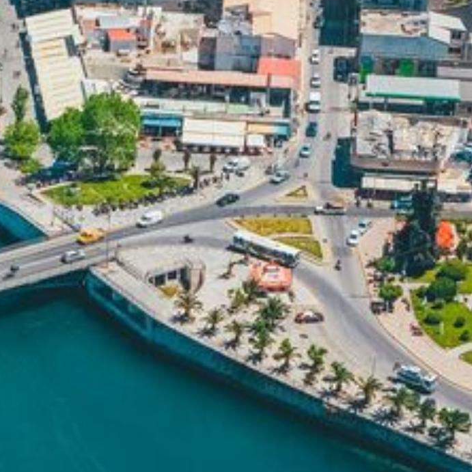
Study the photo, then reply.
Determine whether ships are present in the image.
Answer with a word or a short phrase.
No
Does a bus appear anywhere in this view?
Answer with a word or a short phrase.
Yes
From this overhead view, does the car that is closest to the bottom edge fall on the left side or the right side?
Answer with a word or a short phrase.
right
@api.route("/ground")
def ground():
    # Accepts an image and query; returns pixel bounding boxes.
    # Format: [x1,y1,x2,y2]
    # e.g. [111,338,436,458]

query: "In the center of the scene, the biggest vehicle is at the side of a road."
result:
[231,228,300,268]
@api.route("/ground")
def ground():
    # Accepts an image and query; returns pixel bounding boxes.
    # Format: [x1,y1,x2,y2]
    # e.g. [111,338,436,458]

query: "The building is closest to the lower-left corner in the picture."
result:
[147,262,203,294]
